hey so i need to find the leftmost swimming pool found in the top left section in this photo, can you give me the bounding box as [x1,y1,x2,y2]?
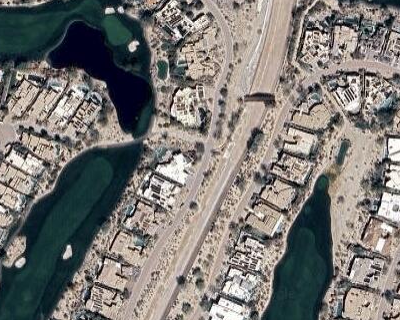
[22,69,49,85]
